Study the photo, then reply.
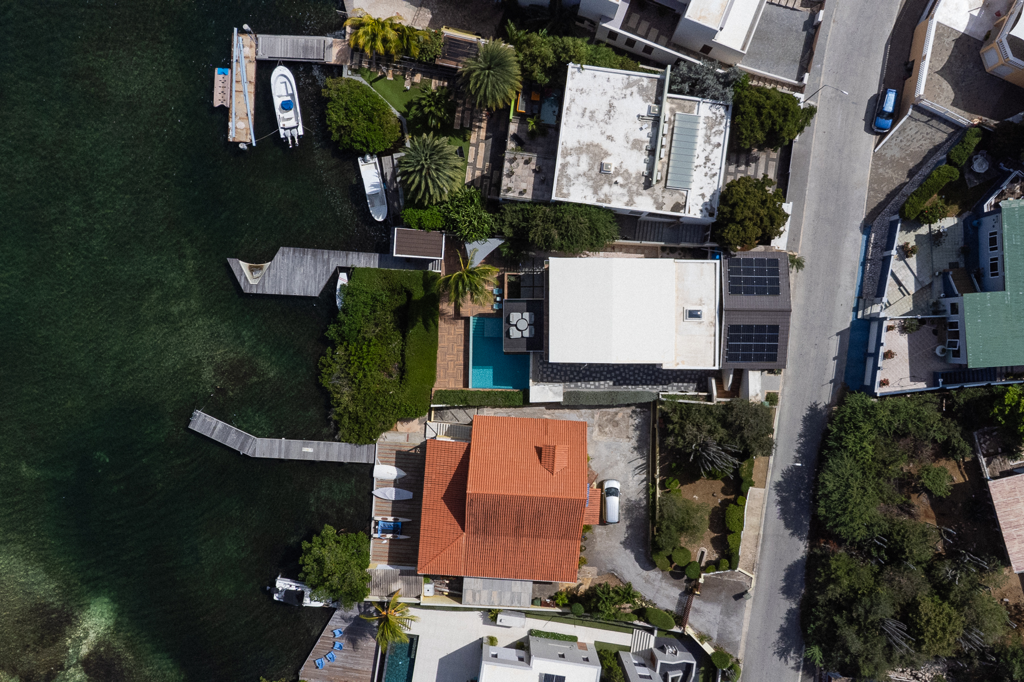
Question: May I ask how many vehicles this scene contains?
2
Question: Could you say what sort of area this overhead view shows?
residential area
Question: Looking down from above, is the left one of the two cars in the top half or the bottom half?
bottom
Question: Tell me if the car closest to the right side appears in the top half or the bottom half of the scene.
top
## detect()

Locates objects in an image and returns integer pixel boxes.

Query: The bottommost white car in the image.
[601,479,623,525]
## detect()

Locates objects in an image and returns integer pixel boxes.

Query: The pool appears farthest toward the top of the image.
[540,93,559,126]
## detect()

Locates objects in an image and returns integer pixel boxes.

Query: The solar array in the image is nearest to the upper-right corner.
[727,258,781,295]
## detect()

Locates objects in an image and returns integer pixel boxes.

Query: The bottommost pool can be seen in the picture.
[386,634,420,682]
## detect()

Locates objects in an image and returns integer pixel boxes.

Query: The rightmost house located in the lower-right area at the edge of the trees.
[977,467,1024,573]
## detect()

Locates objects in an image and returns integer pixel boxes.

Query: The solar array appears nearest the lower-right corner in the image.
[726,325,780,362]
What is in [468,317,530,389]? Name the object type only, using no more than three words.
swimming pool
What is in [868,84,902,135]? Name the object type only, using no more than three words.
car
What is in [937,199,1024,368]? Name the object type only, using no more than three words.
house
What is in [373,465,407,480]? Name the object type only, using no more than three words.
boat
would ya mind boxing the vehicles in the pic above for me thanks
[601,479,623,525]
[868,84,902,135]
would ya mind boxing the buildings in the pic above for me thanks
[977,467,1024,573]
[482,635,601,682]
[544,257,720,369]
[418,415,600,584]
[615,631,695,682]
[551,63,732,226]
[937,199,1024,368]
[984,0,1024,81]
[824,669,853,682]
[392,227,446,261]
[575,0,767,84]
